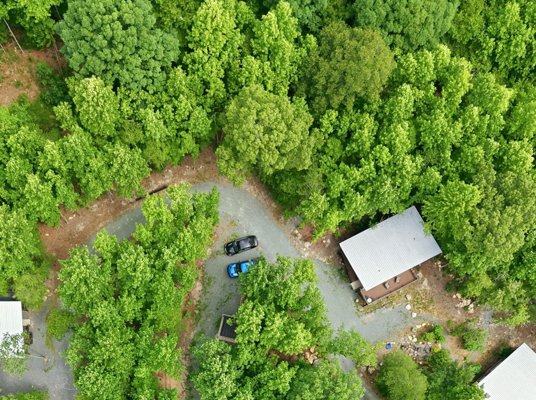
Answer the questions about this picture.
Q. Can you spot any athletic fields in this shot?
No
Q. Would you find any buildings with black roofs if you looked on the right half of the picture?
No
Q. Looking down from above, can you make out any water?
No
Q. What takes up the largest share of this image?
trees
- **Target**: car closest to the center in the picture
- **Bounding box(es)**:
[223,235,260,257]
